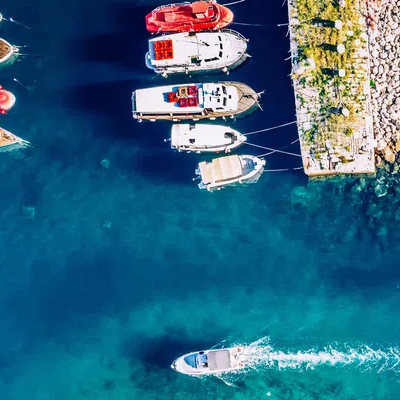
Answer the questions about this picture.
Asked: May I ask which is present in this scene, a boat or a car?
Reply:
boat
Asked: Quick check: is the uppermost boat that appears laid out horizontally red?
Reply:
Yes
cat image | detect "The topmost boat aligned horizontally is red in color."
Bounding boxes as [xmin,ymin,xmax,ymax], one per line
[145,0,235,34]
